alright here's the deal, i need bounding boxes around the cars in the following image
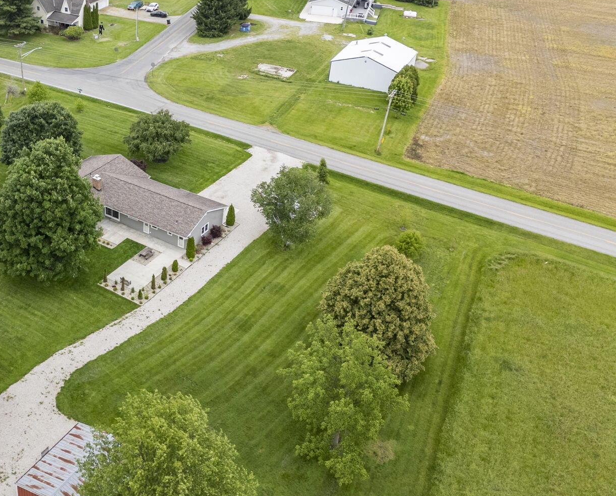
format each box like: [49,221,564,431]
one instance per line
[127,0,143,9]
[149,9,169,17]
[145,2,159,11]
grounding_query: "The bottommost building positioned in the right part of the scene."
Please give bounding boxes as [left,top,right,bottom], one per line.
[328,32,418,91]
